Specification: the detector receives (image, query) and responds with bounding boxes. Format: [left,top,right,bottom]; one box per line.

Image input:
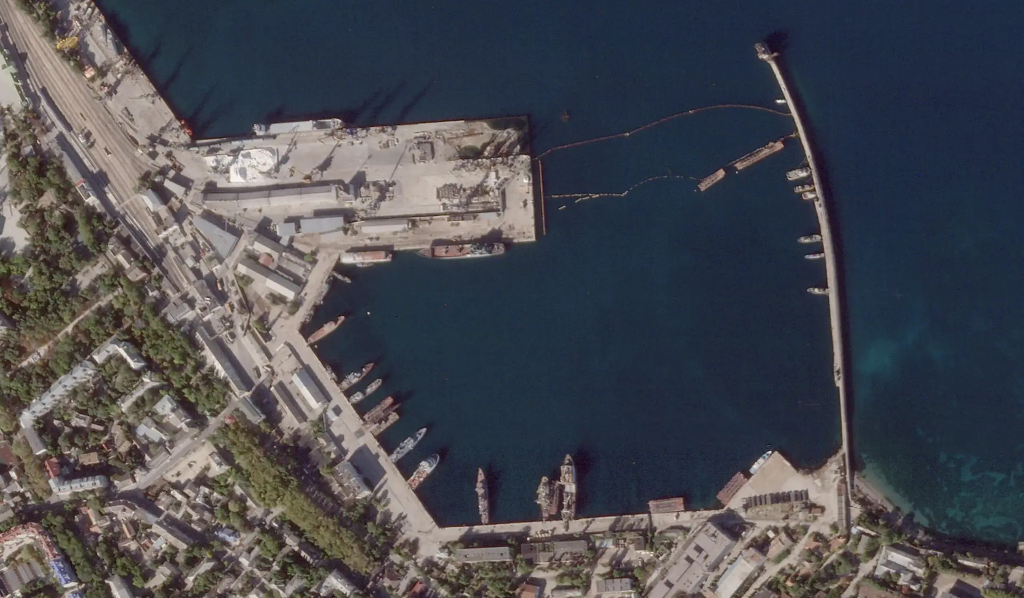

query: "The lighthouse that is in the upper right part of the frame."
[755,41,774,64]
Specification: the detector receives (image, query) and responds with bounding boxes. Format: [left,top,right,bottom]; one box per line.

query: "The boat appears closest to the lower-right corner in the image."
[748,451,772,475]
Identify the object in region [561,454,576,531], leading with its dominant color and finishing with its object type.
gray ship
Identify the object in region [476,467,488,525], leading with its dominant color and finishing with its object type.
gray ship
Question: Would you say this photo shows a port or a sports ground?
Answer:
port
